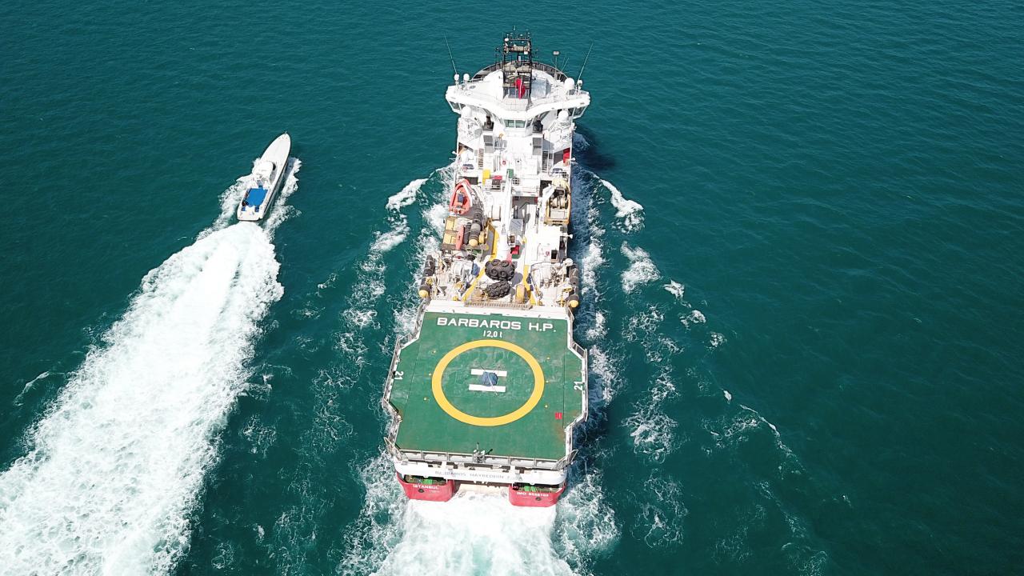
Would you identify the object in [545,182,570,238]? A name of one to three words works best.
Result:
boat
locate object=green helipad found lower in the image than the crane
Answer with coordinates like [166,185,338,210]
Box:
[384,298,587,472]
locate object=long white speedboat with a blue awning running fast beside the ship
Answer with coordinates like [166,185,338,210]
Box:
[236,128,292,223]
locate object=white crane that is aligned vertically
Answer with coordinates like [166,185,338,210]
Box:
[494,176,518,261]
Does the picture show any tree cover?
No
